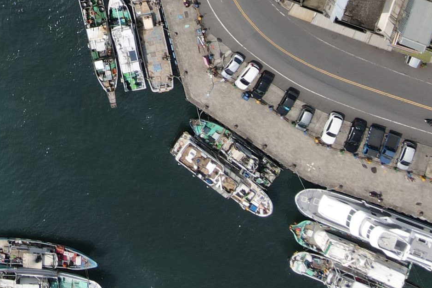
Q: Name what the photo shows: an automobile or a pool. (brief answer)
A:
automobile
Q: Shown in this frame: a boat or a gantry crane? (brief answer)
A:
boat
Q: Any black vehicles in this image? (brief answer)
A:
Yes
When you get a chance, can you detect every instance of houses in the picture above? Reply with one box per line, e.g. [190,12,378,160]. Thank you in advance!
[381,0,432,54]
[325,0,387,32]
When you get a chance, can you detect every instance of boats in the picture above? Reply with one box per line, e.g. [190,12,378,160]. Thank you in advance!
[290,220,424,282]
[0,236,100,272]
[292,183,432,265]
[80,0,117,107]
[131,0,172,93]
[108,0,146,92]
[0,268,99,288]
[188,116,279,187]
[171,130,273,217]
[288,252,393,288]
